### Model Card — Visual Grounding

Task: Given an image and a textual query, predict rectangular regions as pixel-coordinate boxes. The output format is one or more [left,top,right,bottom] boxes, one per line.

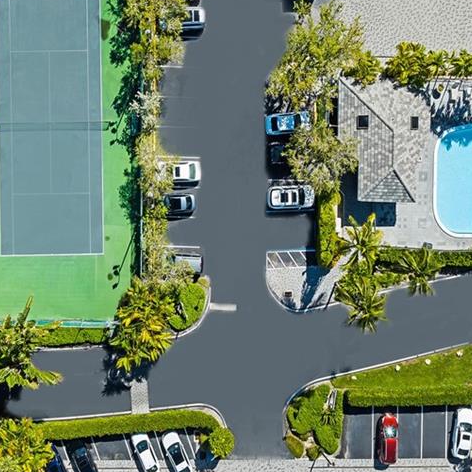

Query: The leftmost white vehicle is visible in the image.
[131,437,161,472]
